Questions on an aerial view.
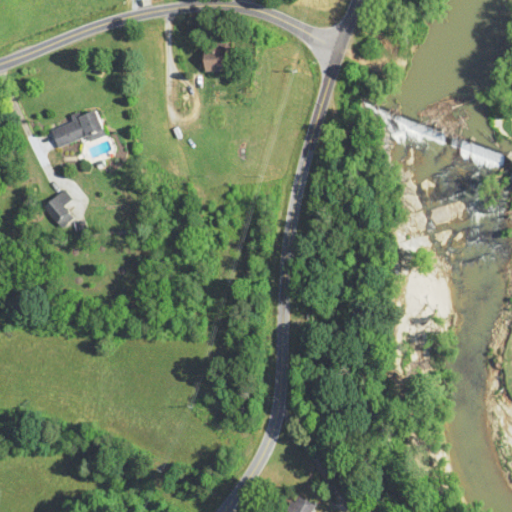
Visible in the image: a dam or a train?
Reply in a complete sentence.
The image shows a dam.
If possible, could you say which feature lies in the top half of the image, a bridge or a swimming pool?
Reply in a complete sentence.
Looking in the top half of the image, you will find a swimming pool.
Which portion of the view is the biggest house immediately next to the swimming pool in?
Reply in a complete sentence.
Look in the top left portion of the view to spot the biggest house immediately next to the swimming pool.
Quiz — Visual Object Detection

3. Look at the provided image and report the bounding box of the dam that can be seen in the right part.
[367,108,506,166]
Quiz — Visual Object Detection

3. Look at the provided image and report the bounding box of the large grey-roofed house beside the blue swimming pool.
[48,110,106,150]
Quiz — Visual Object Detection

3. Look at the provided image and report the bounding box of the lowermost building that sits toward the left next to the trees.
[46,188,77,222]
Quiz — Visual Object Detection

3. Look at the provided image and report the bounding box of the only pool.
[82,136,117,164]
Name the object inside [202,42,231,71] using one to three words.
house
